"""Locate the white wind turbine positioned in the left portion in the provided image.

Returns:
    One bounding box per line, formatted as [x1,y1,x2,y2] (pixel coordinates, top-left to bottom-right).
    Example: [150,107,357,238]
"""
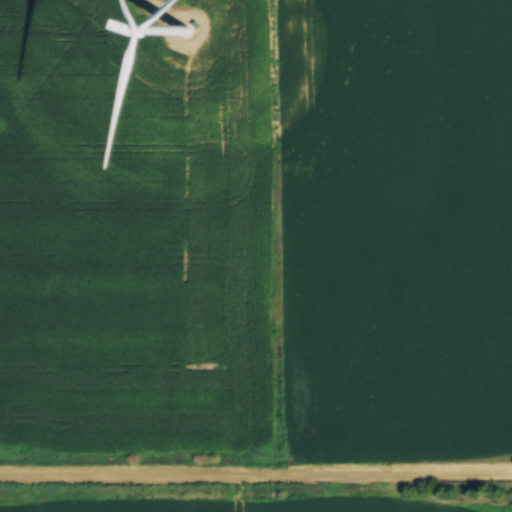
[104,0,196,168]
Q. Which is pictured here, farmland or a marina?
farmland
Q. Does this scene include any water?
No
